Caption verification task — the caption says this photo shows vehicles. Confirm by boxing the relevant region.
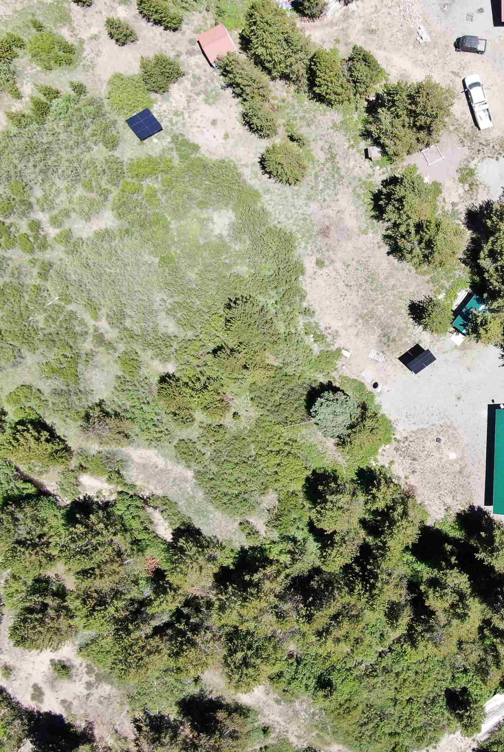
[453,36,487,56]
[466,74,493,132]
